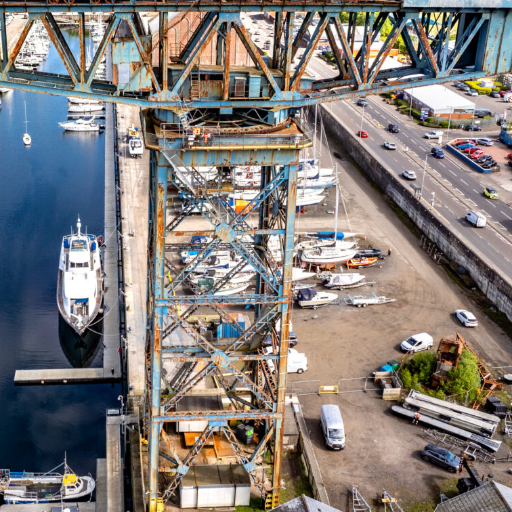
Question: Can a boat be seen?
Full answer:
Yes, the frame does contain a boat.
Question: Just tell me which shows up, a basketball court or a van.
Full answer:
I can see a van in this picture.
